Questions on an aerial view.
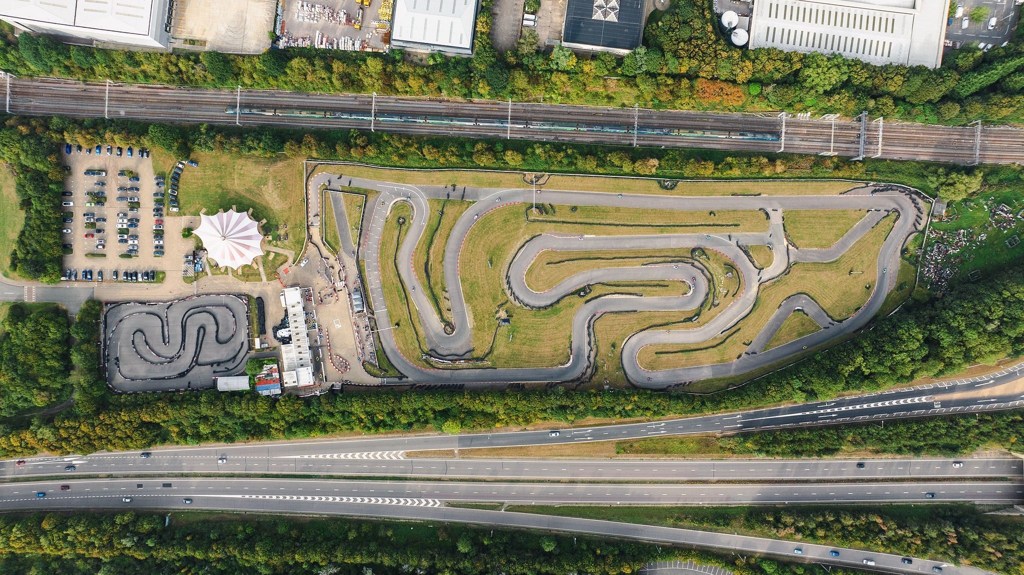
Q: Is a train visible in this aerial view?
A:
Yes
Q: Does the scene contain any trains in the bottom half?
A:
No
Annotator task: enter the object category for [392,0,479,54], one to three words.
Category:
building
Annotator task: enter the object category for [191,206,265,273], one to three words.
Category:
tent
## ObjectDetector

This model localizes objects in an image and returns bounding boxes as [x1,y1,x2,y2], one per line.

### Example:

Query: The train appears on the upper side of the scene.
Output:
[227,108,778,142]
